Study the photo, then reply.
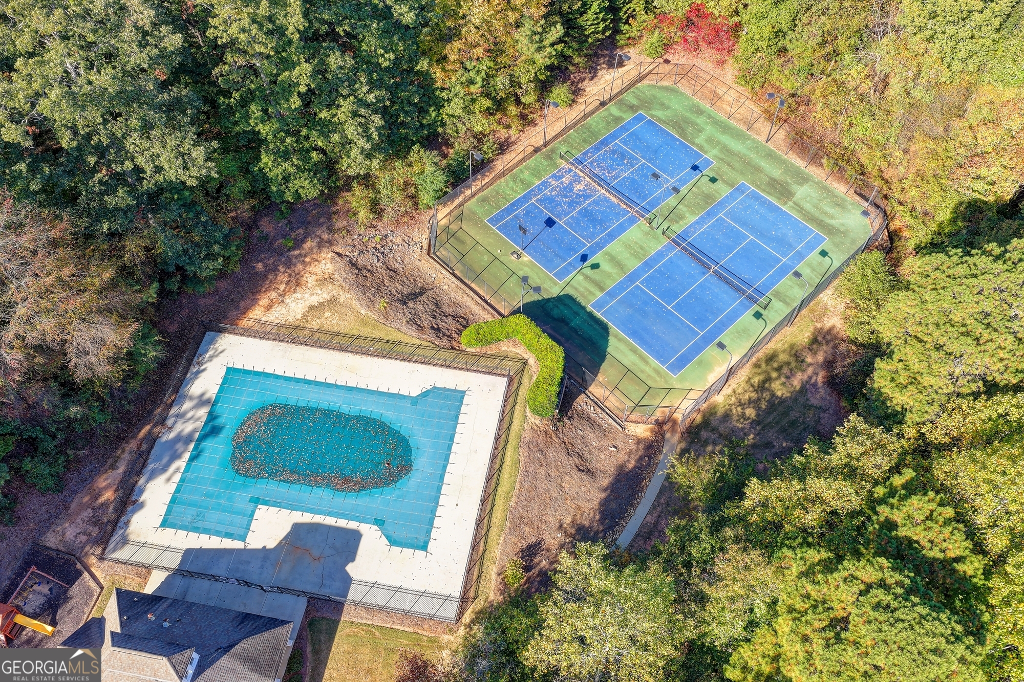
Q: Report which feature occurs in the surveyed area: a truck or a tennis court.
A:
tennis court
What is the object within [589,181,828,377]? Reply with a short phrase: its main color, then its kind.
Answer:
blue tennis court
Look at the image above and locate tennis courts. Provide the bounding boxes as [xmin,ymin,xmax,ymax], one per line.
[589,181,828,377]
[486,112,715,282]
